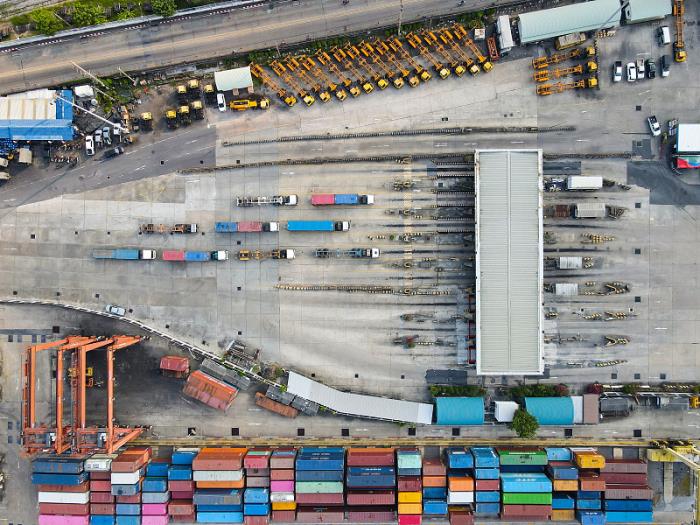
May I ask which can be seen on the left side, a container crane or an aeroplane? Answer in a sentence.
There is a container crane on the left side.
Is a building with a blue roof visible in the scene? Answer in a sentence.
Yes, I can see a building with a blue roof in this picture.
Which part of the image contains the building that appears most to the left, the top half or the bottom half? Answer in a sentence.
The building that appears most to the left is in the top half of the image.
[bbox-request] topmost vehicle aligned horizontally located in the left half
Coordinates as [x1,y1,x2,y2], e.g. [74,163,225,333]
[230,96,269,110]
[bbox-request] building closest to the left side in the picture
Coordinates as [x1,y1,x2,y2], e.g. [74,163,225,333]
[0,88,81,142]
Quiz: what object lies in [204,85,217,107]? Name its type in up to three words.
vehicle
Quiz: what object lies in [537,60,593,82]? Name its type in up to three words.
truck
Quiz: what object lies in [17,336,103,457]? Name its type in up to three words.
container crane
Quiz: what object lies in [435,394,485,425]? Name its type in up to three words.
building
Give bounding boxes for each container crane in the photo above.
[17,336,103,457]
[69,336,147,457]
[649,442,700,525]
